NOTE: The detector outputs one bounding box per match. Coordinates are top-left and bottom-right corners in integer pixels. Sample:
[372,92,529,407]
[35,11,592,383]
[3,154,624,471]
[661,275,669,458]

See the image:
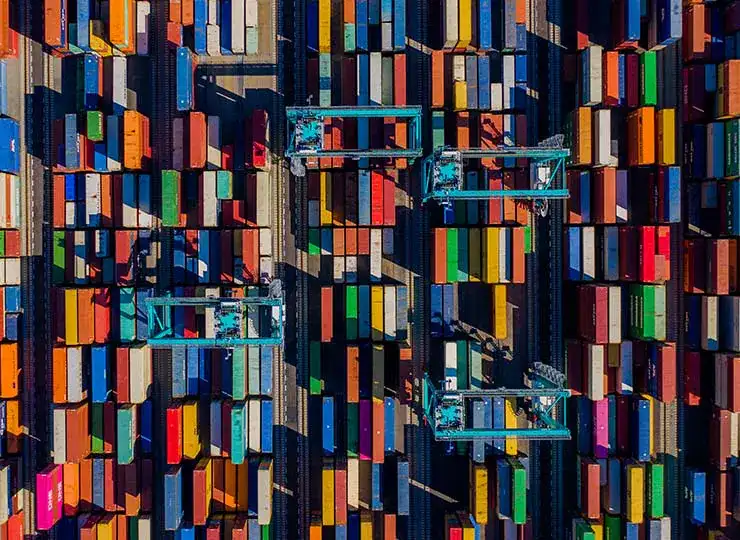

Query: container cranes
[423,359,572,442]
[423,134,570,218]
[286,103,423,184]
[145,278,285,353]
